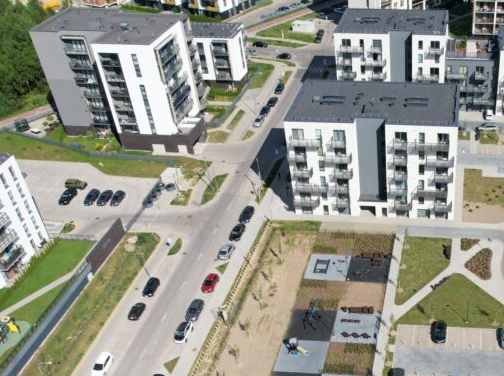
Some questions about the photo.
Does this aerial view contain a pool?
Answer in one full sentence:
No, there isn't any pool down there.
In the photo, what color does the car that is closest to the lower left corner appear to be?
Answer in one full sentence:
In this view, the car that is closest to the lower left corner is white.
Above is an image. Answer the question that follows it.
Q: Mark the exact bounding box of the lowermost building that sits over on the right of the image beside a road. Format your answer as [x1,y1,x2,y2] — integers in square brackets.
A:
[284,76,460,218]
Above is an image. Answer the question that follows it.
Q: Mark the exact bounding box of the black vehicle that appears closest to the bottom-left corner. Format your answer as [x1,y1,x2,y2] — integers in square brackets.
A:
[127,301,147,322]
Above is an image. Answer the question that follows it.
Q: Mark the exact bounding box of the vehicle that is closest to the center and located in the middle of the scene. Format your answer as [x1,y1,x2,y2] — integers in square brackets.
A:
[239,208,254,223]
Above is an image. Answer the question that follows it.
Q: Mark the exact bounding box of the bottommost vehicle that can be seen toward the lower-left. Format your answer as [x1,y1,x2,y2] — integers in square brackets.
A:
[90,352,115,376]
